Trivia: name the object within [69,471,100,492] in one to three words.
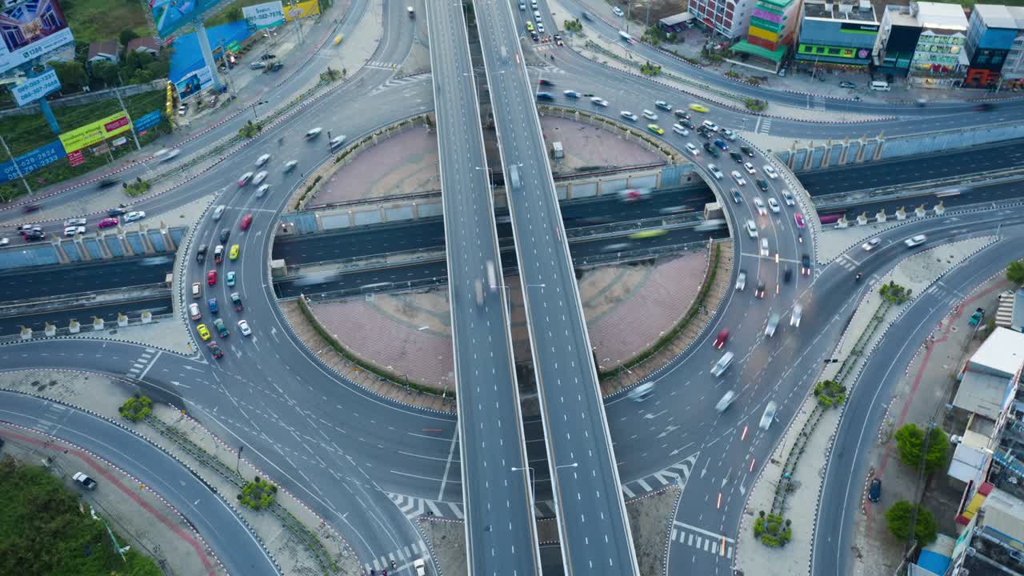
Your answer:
truck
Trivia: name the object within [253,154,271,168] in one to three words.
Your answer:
car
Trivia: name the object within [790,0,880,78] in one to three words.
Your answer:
building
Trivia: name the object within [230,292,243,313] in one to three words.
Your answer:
vehicle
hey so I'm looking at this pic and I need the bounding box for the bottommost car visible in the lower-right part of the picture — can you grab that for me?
[867,476,883,504]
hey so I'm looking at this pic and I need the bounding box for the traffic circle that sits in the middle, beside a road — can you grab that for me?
[181,67,822,505]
